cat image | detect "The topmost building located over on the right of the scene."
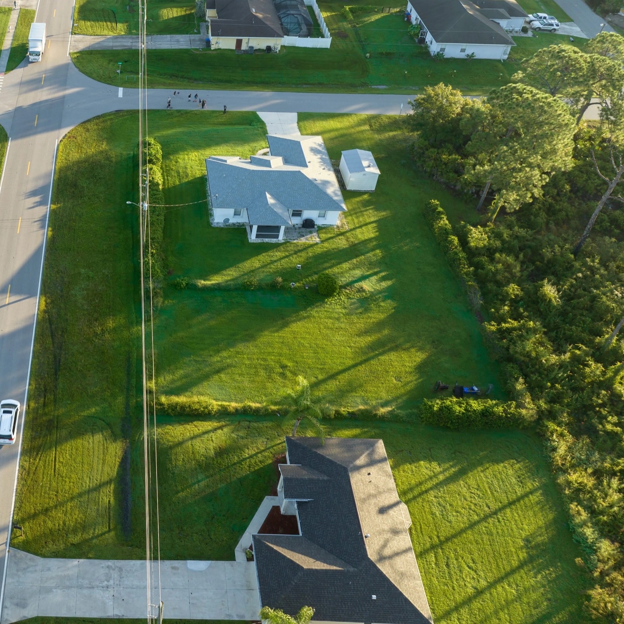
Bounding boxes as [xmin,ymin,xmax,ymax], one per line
[408,0,530,57]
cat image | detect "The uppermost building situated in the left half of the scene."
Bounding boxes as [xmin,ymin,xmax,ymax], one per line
[204,0,285,50]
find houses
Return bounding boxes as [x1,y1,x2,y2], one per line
[408,0,530,57]
[205,135,347,240]
[204,0,285,50]
[251,435,435,624]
